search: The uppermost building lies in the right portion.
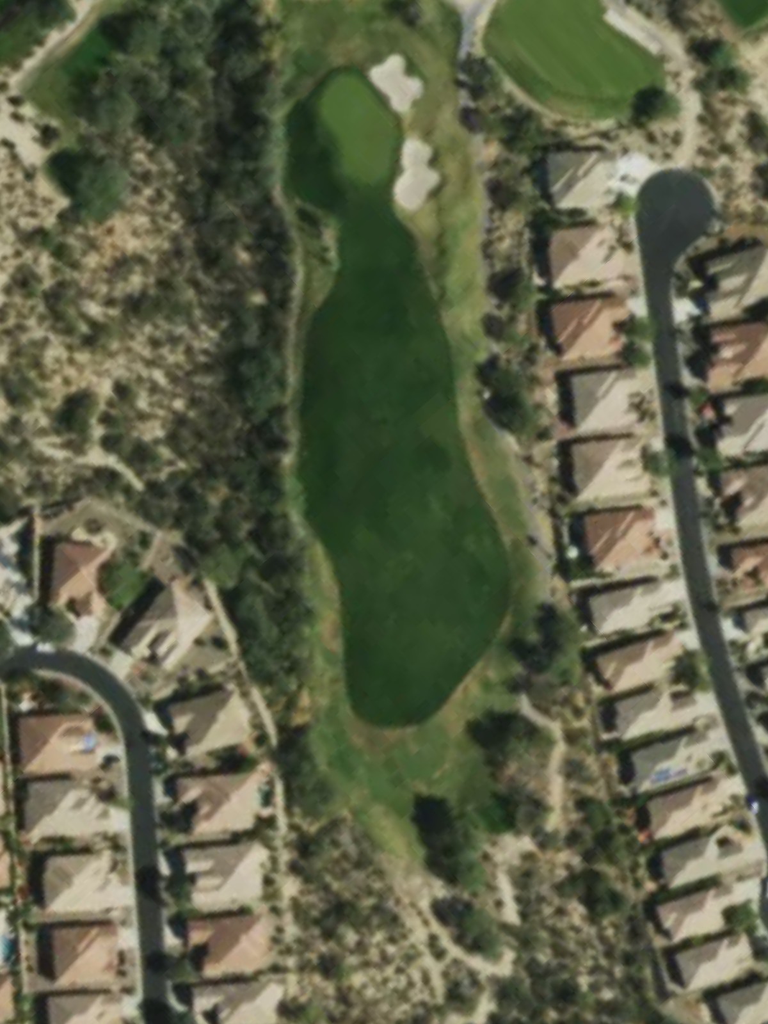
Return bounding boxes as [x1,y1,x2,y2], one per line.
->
[546,152,615,213]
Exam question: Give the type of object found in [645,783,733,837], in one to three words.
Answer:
house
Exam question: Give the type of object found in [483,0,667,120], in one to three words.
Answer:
golf course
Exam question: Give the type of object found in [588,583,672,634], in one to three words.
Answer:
house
